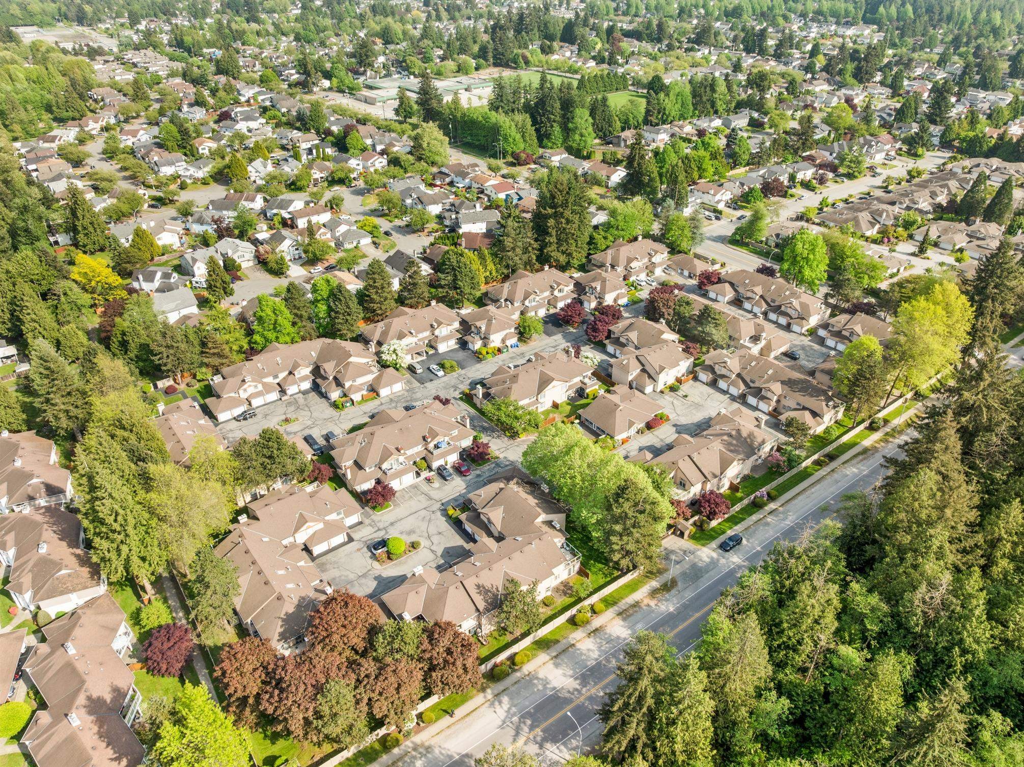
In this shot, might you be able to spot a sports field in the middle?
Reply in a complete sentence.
No, in the middle there is no sports field.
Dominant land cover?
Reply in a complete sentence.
What you mostly see from above here is trees.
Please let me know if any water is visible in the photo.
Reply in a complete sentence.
No, water can't be seen anywhere here.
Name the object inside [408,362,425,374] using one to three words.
vehicle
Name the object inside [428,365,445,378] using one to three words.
vehicle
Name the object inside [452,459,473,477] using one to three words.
car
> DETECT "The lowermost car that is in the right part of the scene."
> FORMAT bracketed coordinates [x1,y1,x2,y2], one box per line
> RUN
[718,530,745,553]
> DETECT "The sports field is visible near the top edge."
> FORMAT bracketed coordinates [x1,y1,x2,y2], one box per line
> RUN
[19,26,114,52]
